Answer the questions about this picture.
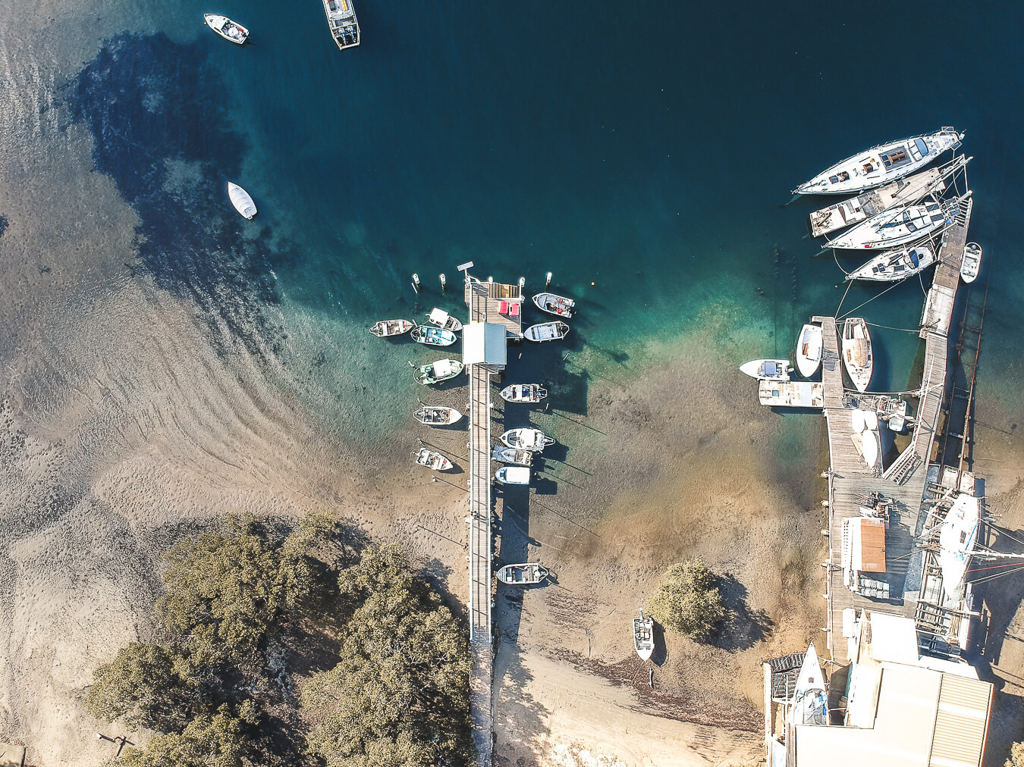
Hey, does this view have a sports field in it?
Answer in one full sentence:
No, the picture doesn't show any sports field.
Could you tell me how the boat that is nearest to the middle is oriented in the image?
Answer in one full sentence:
The boat that is nearest to the middle is oriented from left to right.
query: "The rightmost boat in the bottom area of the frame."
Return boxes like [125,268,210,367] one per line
[933,491,1024,603]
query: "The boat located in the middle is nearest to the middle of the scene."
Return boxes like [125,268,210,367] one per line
[500,384,553,404]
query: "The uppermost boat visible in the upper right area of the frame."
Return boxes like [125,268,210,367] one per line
[792,120,973,196]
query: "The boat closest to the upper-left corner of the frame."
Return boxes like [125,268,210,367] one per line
[204,12,254,48]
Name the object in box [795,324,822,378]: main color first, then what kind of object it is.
white boat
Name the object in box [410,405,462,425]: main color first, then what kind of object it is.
white boat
